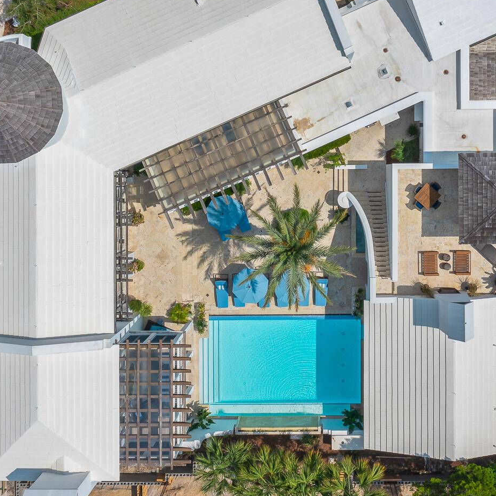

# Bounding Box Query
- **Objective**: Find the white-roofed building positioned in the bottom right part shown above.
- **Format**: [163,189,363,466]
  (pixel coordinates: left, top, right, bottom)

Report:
[361,284,496,461]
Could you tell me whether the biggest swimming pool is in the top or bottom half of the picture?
bottom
